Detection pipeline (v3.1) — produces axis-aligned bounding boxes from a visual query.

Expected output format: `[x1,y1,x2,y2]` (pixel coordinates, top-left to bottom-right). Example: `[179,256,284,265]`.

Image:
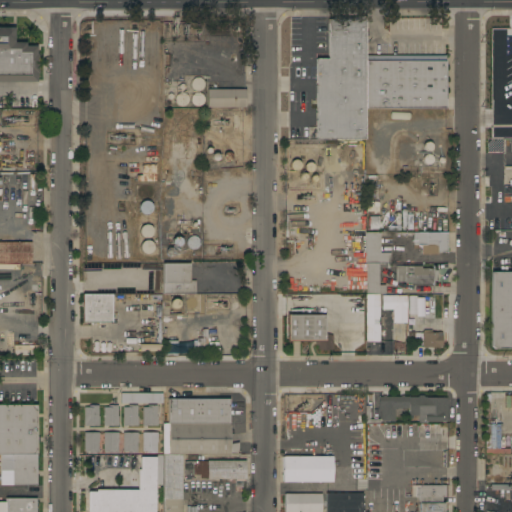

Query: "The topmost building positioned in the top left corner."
[0,26,38,81]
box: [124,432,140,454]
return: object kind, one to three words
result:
house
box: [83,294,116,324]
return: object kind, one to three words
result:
building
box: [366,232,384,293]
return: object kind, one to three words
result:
building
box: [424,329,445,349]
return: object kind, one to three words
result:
house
